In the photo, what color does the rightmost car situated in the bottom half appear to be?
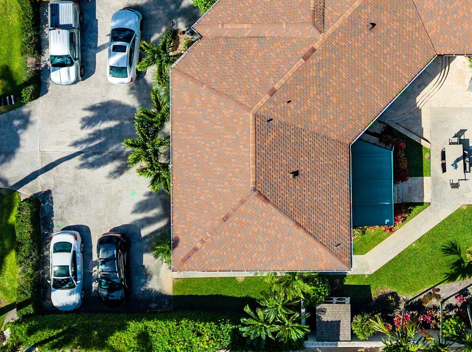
black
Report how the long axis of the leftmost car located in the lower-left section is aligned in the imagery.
from top to bottom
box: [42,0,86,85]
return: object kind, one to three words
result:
truck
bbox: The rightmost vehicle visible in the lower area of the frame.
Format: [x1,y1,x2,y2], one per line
[92,230,130,306]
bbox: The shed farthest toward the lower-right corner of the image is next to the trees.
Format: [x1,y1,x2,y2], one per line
[316,294,351,341]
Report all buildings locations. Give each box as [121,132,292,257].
[168,0,472,275]
[316,294,351,341]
